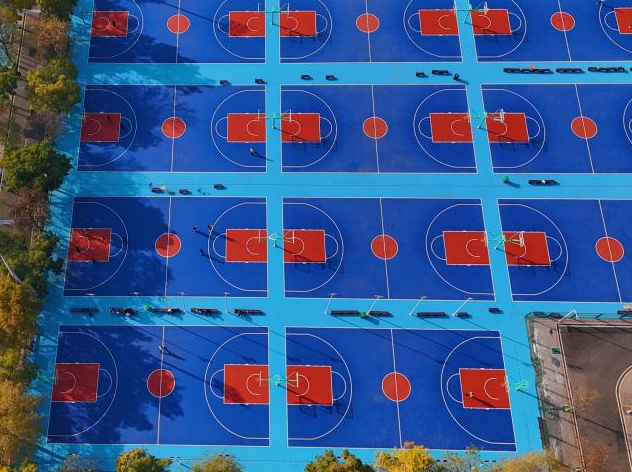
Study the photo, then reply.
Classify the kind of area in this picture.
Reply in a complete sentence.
It's a sports ground.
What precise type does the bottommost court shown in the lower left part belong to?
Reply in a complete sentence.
The bottommost court shown in the lower left part appears to be a basketball court.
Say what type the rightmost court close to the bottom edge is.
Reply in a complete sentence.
I'd say the rightmost court close to the bottom edge is a basketball court.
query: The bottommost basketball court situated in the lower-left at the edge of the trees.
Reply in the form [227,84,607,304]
[46,325,269,446]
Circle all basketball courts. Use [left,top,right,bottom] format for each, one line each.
[281,84,478,173]
[62,197,268,299]
[46,325,269,446]
[482,84,632,173]
[88,0,267,64]
[76,85,267,173]
[470,0,632,62]
[280,0,463,63]
[499,198,632,302]
[283,197,495,301]
[285,328,516,451]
